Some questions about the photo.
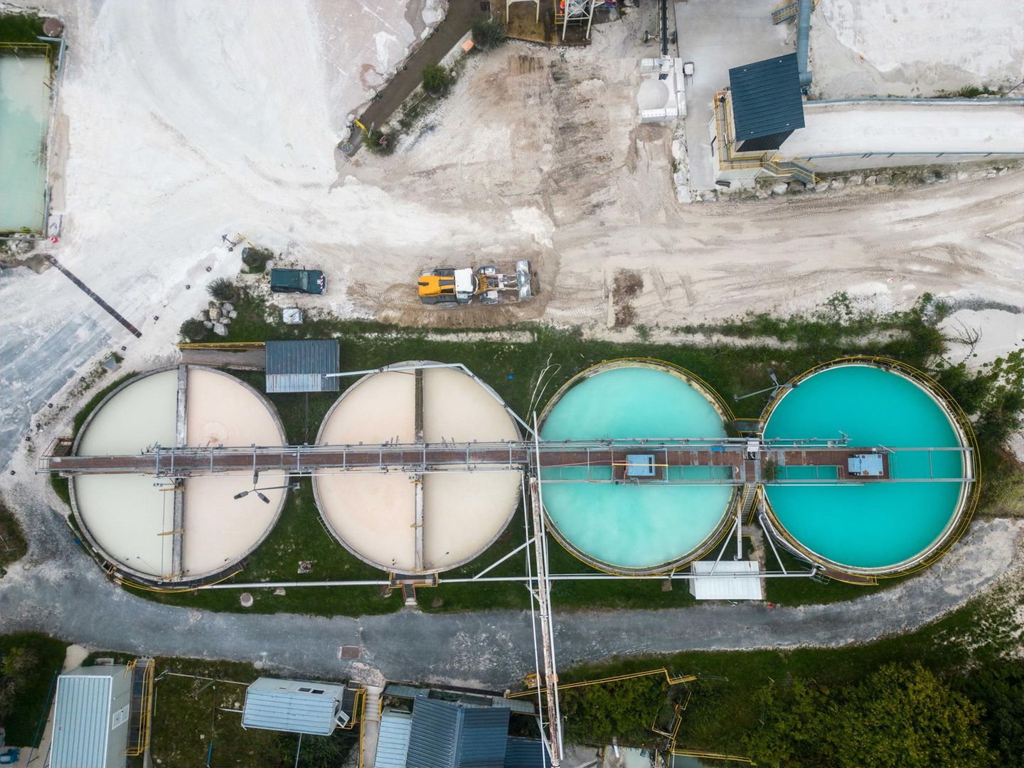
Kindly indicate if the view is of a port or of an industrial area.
industrial area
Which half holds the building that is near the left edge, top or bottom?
bottom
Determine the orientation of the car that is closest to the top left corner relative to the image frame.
from left to right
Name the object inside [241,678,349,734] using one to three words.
building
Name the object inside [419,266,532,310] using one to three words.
work vehicle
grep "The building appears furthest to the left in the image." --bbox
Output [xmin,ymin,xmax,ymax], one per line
[48,666,130,768]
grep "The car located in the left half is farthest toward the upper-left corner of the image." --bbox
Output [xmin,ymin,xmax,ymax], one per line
[271,270,327,296]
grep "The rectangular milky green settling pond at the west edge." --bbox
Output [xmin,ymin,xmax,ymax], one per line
[0,39,51,233]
